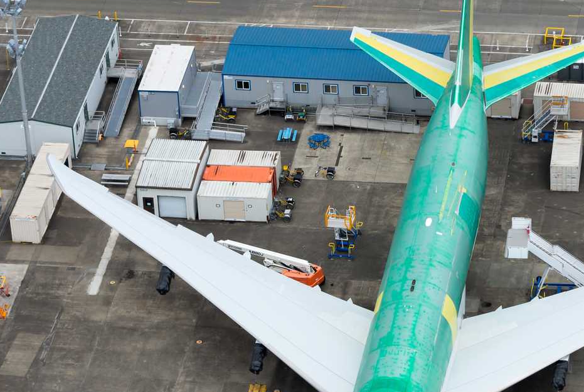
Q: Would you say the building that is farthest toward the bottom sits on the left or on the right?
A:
left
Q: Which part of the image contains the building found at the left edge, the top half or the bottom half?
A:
top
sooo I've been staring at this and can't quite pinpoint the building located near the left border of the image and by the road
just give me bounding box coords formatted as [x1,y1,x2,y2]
[0,10,119,159]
